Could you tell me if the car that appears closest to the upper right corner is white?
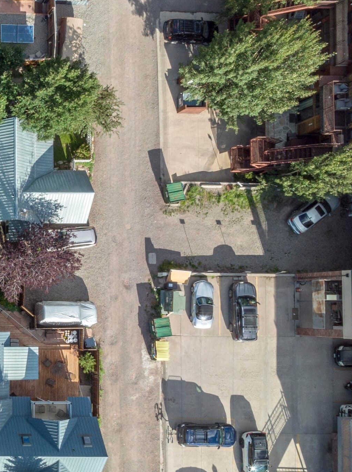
No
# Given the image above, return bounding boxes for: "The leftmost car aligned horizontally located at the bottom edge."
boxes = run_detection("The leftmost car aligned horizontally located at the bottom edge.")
[173,421,235,450]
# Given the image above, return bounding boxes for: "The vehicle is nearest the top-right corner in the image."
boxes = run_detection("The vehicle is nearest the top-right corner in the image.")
[158,16,217,46]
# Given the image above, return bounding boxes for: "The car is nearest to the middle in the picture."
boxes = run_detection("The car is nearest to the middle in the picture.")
[189,280,216,329]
